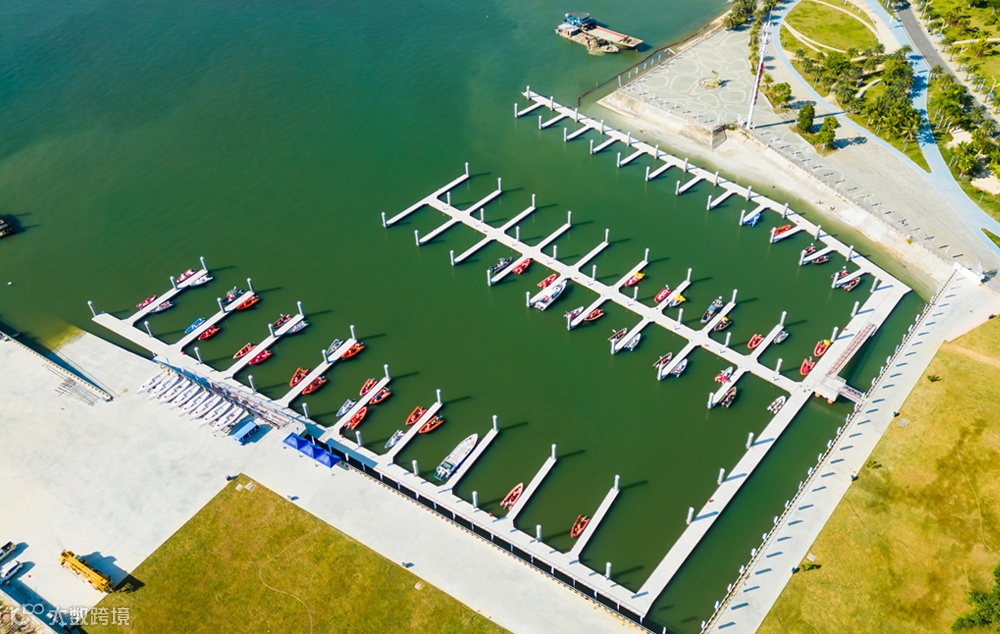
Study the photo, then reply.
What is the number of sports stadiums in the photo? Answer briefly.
zero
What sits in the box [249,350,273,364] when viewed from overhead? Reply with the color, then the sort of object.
red boat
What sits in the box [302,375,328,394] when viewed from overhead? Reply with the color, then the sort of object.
red boat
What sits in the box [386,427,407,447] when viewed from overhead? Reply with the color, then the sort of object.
white boat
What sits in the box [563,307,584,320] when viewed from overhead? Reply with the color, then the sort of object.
white boat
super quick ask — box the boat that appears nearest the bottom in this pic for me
[571,515,590,537]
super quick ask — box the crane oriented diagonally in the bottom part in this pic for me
[55,550,114,597]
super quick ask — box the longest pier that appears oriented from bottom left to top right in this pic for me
[638,277,912,617]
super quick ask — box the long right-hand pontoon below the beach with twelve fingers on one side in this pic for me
[515,92,893,289]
